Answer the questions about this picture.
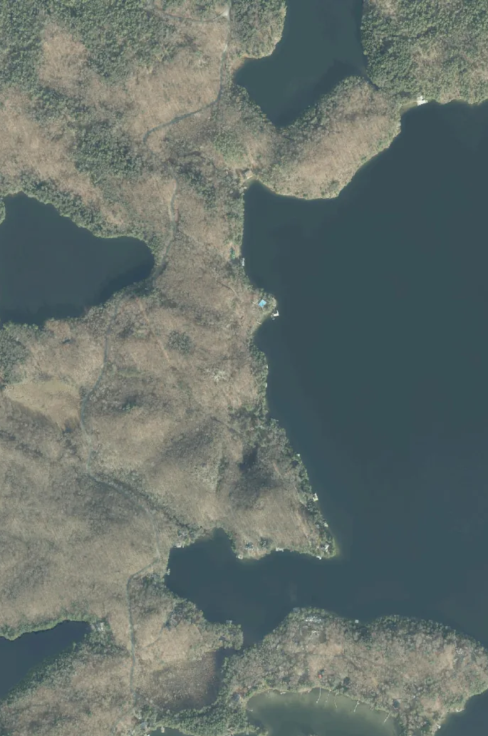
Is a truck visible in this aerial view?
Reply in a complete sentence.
No, the frame has no truck in it.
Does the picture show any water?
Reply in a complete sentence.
Yes, the picture does contain water.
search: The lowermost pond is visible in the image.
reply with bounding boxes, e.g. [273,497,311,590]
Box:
[0,622,88,695]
